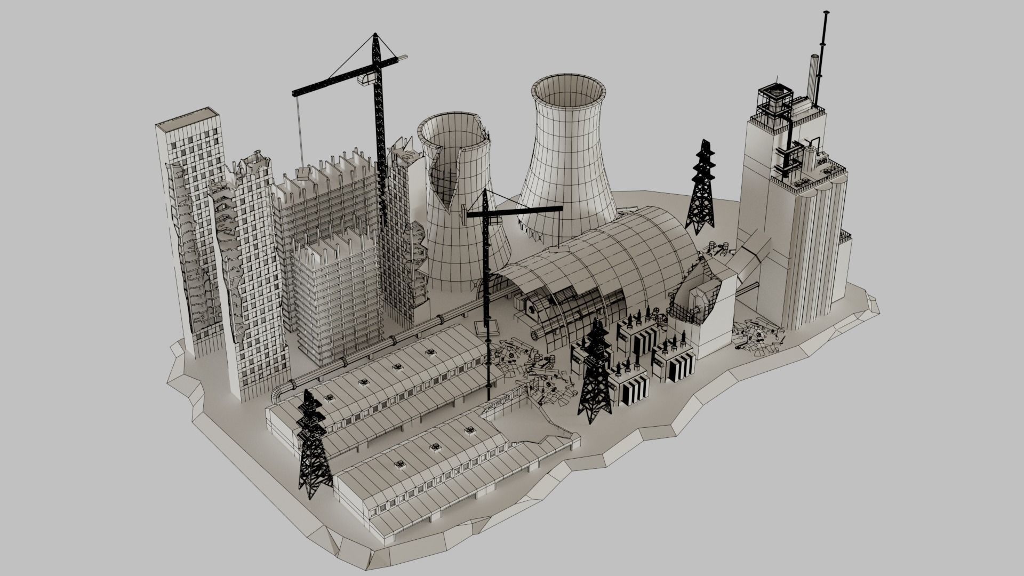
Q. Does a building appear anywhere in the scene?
Yes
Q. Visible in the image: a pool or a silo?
silo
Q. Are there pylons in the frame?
Yes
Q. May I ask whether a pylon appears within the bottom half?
Yes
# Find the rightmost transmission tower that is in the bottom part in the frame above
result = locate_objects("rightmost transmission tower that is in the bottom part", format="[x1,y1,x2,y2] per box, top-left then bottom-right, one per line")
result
[577,321,612,425]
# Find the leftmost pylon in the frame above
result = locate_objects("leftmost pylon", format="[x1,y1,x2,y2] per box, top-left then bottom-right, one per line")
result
[295,392,333,500]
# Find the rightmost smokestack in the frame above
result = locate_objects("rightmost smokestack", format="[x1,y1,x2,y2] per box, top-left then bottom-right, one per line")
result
[805,52,819,110]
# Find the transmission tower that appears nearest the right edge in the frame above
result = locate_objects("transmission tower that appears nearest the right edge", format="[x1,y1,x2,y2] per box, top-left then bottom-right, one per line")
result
[685,142,716,236]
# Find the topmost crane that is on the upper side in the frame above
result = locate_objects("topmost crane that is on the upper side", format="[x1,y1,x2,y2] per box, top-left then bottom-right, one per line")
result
[293,32,413,223]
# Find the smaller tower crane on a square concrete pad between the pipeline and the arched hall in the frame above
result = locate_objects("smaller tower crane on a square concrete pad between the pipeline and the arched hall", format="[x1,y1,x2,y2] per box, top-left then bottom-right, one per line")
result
[458,187,563,326]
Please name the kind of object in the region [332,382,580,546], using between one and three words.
warehouse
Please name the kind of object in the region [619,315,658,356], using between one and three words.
storage tank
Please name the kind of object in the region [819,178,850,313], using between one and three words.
silo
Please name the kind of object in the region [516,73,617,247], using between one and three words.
cooling tower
